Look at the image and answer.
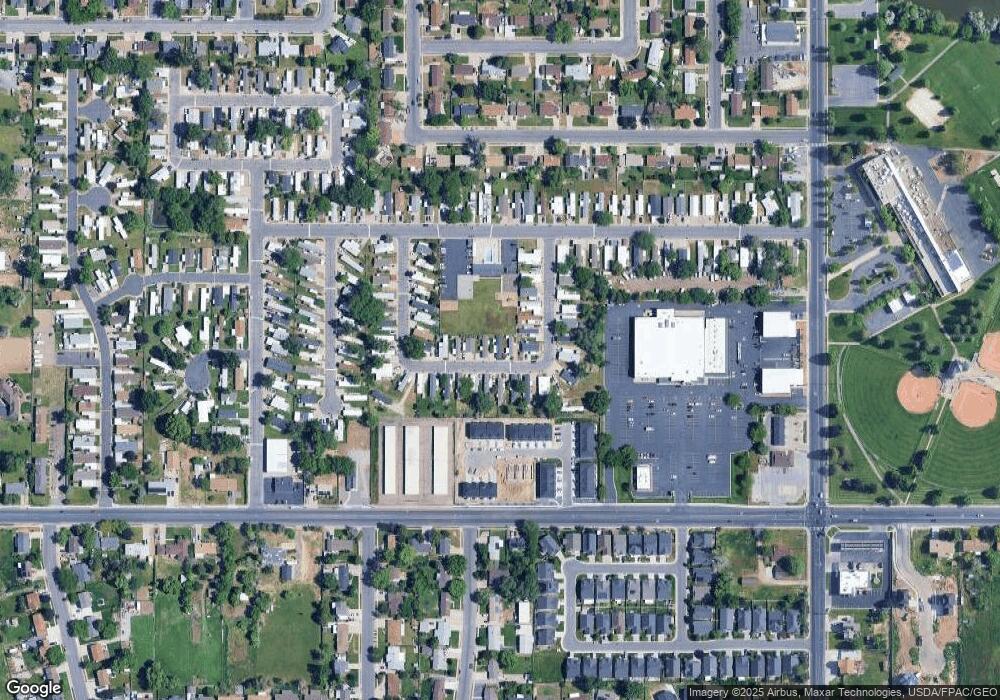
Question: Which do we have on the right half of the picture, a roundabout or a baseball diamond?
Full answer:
What appears on the right half of the picture is a baseball diamond.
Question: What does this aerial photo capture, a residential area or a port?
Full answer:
This image shows a residential area.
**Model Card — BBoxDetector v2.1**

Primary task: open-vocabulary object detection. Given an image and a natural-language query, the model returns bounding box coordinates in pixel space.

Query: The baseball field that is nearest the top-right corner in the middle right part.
[979,305,1000,375]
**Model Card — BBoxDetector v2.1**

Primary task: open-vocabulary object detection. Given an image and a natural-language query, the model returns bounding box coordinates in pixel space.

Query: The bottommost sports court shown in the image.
[906,88,949,128]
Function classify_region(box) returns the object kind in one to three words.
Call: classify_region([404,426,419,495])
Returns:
building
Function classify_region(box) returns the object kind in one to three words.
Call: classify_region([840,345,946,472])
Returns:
baseball field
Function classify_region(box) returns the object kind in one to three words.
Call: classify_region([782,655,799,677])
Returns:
house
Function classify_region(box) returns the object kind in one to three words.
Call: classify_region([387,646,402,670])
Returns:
house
